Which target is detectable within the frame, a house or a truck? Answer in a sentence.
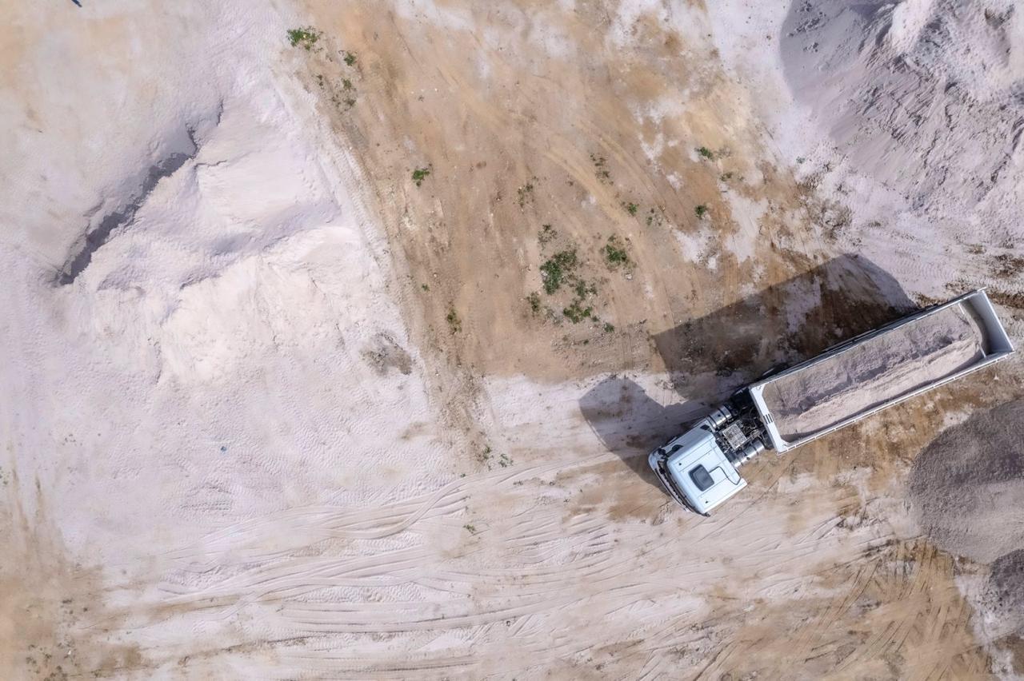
This aerial view contains a truck.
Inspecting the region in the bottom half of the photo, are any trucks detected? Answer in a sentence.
Yes, the scene does show a truck in the bottom half of the photo.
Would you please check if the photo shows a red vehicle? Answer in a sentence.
No, I can see no red vehicle in this picture.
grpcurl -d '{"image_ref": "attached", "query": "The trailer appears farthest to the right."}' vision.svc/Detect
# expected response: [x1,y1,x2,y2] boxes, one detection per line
[735,284,1019,456]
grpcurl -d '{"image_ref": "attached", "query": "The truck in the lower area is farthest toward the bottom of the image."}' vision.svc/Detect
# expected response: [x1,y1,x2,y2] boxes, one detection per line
[649,377,761,522]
